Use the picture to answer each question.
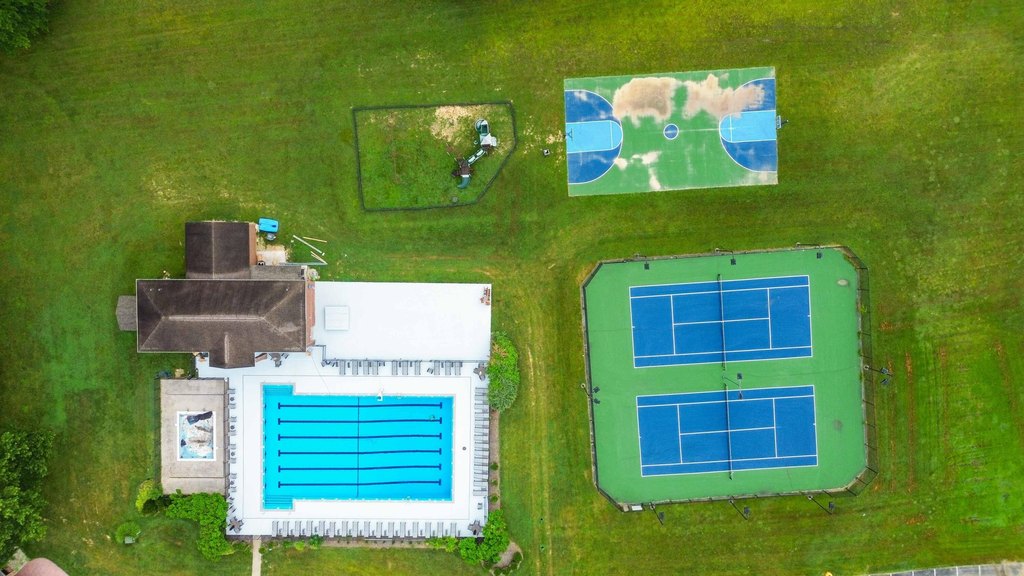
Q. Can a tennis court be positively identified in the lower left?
No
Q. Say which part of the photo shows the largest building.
left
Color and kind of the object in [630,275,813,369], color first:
blue tennis court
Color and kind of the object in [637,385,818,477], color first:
blue tennis court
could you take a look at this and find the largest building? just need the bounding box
[116,221,313,368]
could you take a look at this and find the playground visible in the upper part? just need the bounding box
[450,116,497,191]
